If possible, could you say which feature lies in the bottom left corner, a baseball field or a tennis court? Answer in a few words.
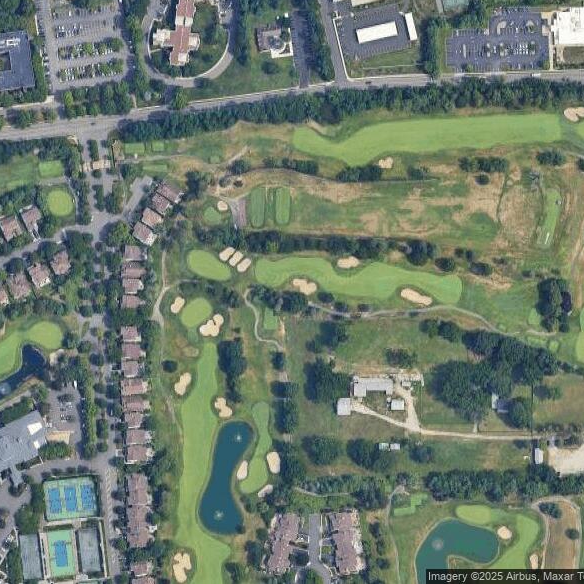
tennis court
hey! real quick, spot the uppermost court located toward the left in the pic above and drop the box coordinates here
[44,478,98,521]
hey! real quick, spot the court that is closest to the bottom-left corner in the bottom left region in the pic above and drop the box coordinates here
[20,534,42,580]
